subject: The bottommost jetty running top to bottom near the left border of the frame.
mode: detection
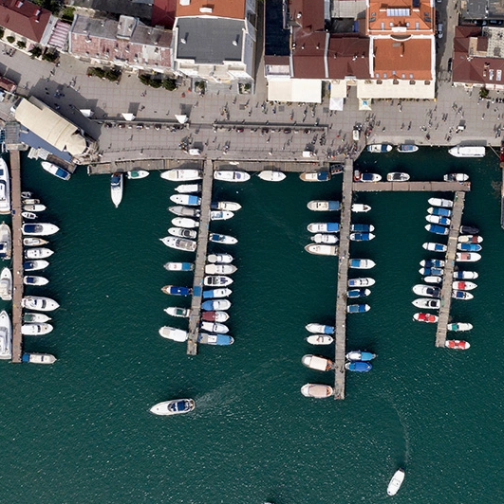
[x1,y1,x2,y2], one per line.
[9,143,24,362]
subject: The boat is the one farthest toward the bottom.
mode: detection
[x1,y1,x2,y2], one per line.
[387,469,405,495]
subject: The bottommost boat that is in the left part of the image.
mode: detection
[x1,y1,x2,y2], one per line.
[150,398,196,415]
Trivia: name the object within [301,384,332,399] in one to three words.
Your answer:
boat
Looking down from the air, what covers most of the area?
water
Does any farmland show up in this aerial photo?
No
